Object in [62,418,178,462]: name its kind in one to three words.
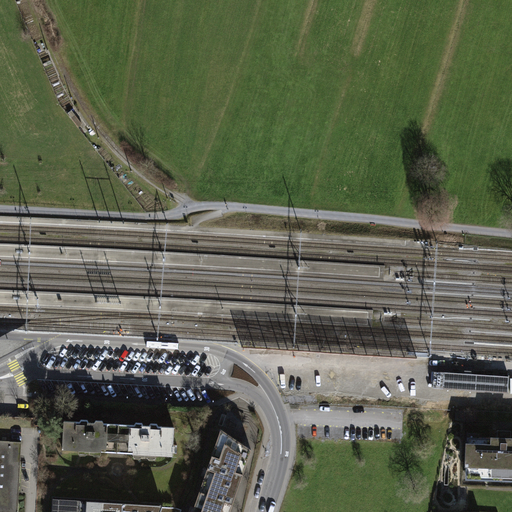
building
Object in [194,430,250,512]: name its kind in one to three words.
building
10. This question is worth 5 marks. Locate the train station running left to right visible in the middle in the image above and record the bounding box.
[0,216,406,324]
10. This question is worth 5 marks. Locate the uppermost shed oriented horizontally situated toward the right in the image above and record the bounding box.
[431,371,510,394]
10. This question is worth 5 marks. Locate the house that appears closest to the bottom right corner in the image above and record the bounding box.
[464,436,512,482]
